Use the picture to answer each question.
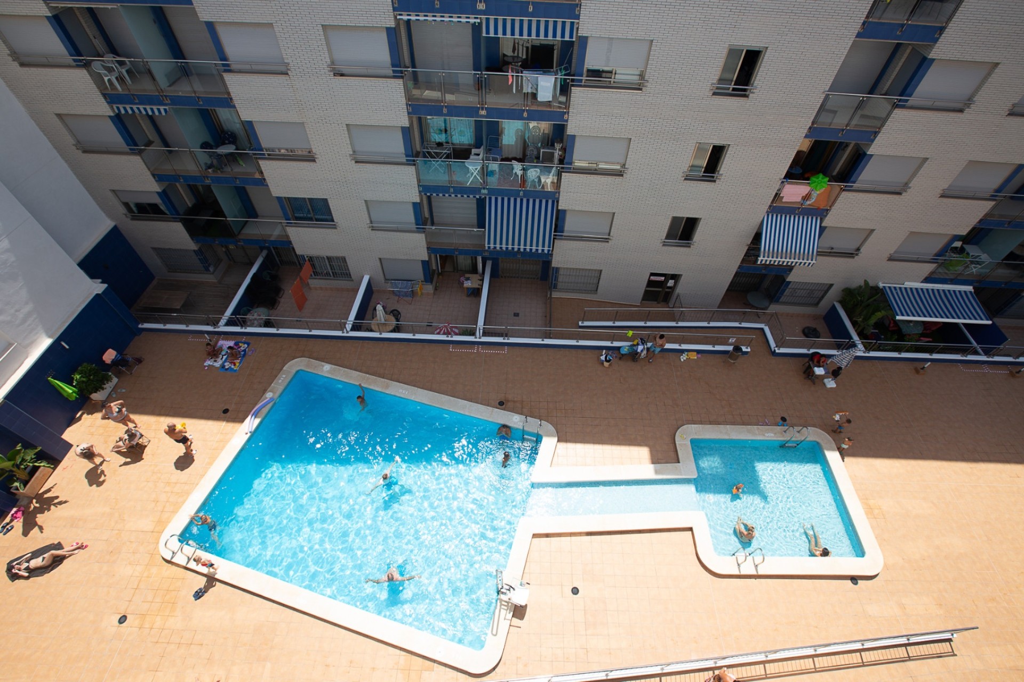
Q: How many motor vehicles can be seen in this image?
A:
0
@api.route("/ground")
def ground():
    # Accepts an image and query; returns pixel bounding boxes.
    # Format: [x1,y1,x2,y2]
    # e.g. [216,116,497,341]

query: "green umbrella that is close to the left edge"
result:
[44,376,75,396]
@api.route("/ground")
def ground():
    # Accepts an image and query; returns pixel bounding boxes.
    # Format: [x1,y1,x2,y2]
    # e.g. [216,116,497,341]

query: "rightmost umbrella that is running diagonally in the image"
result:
[833,338,870,379]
